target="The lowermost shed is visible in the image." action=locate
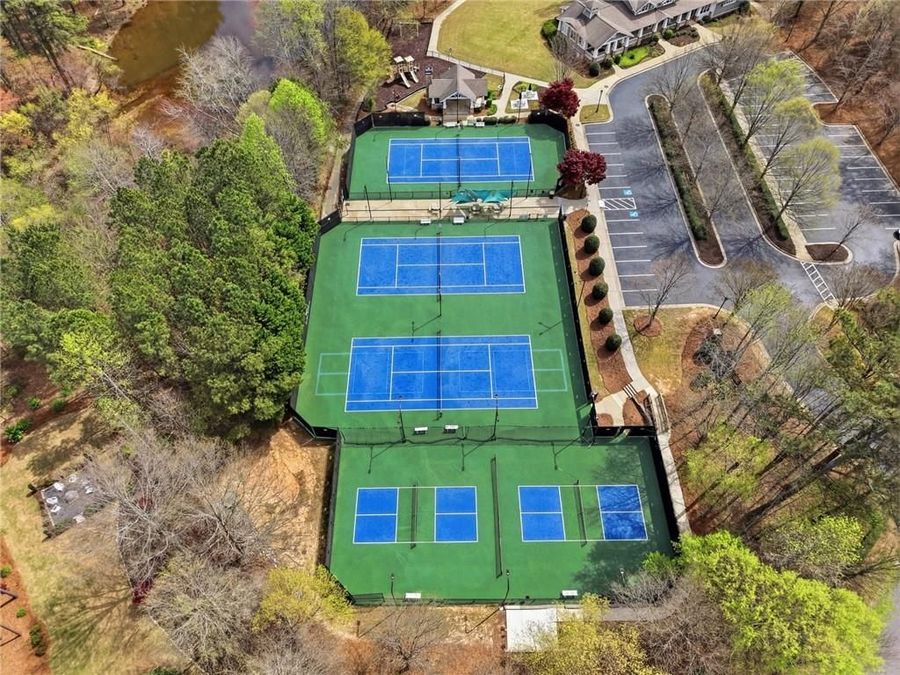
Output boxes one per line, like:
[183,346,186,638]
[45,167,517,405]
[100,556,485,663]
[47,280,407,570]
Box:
[506,605,560,654]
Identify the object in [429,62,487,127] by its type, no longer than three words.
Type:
building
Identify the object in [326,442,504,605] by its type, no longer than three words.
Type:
sports court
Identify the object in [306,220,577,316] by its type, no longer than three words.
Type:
tennis court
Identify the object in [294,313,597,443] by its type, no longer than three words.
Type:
tennis court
